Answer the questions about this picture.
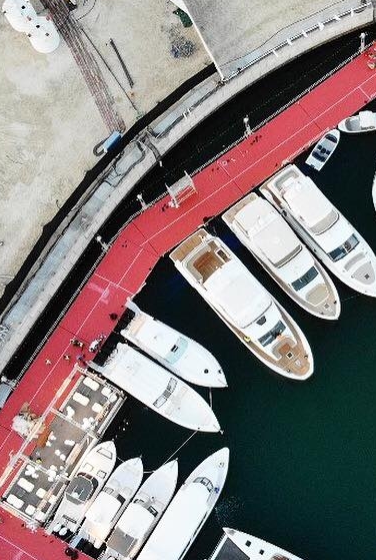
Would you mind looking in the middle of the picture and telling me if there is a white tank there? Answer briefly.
No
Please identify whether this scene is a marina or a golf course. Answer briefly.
marina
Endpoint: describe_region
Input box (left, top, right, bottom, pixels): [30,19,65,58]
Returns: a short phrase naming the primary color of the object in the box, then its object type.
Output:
white storage tank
